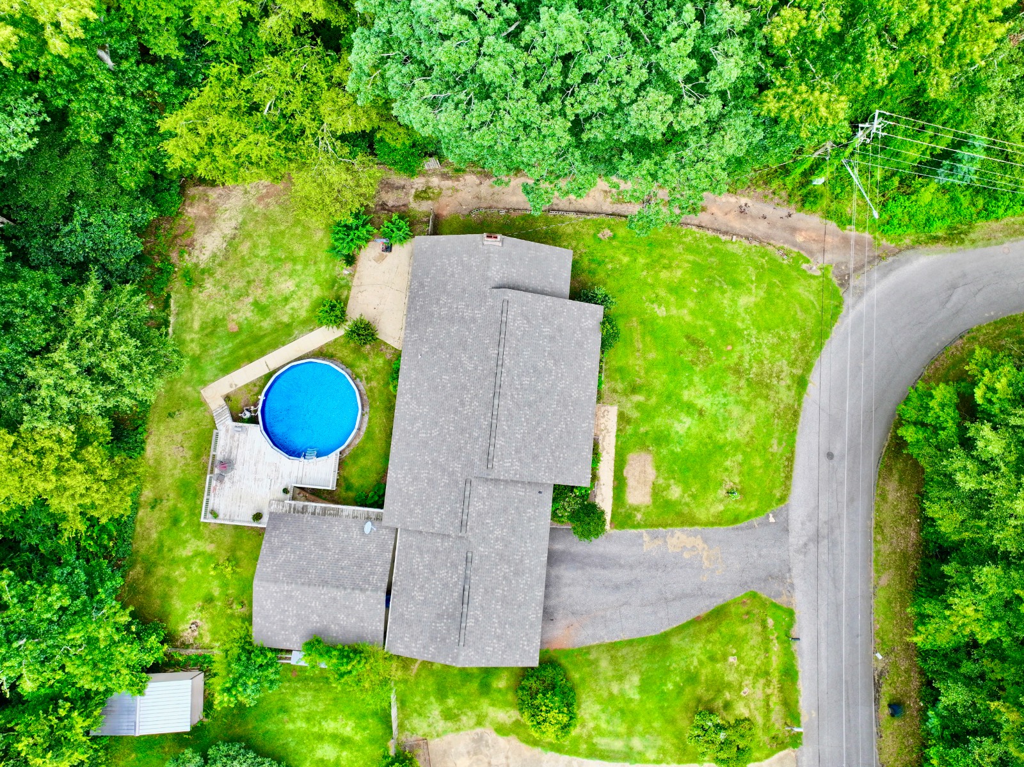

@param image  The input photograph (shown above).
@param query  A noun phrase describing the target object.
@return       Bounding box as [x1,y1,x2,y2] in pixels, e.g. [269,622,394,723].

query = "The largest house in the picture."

[383,233,604,667]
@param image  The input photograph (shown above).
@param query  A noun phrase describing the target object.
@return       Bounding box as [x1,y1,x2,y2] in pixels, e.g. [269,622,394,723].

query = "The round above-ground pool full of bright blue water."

[258,357,366,461]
